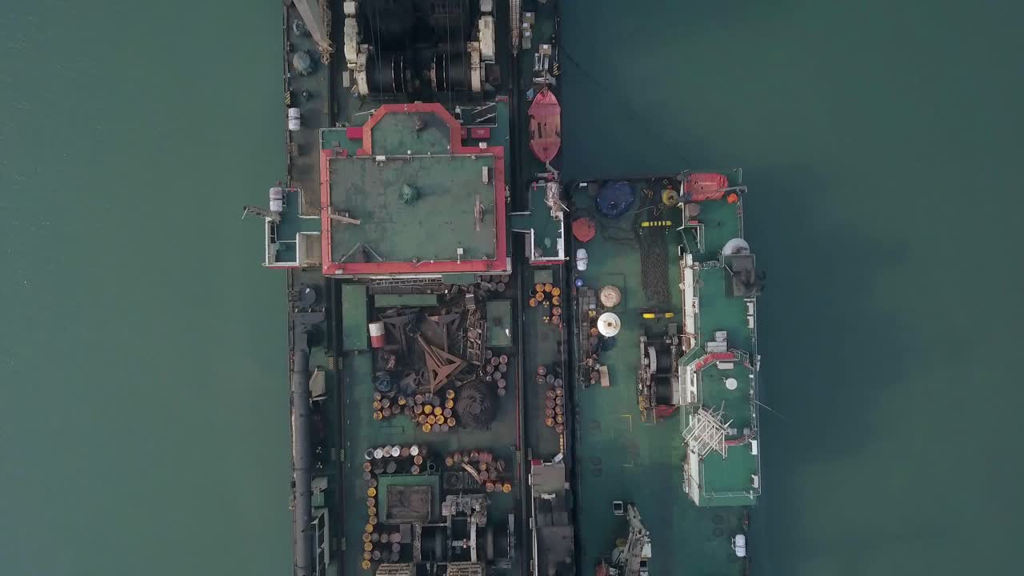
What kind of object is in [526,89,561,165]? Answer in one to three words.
boat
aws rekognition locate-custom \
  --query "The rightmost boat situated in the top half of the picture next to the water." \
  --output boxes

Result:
[685,173,728,201]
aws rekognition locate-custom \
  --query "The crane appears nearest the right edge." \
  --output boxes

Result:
[593,502,652,576]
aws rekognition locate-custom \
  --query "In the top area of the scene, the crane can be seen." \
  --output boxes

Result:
[292,0,334,64]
